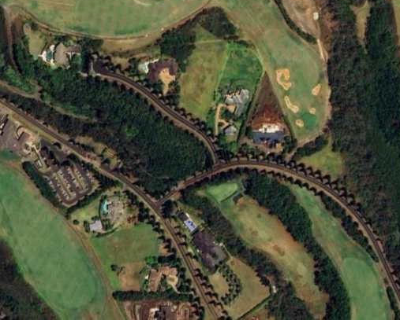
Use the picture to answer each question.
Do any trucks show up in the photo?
No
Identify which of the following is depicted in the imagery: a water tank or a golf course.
golf course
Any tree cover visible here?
Yes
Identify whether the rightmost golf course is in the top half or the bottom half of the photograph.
bottom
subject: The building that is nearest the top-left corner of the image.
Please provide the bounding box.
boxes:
[50,43,81,68]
